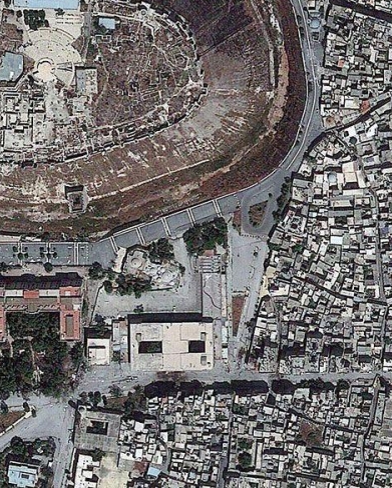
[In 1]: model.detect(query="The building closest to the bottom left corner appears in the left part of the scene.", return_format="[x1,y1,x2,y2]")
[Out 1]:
[8,460,40,487]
